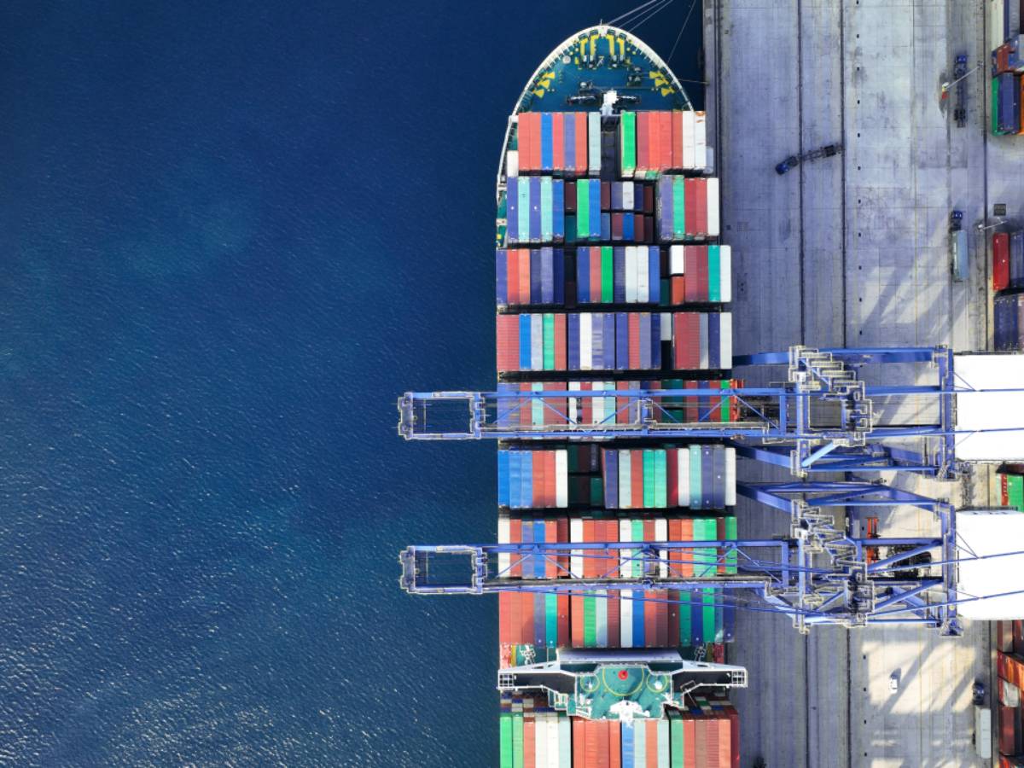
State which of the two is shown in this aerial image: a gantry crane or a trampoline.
gantry crane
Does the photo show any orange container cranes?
No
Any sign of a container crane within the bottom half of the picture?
Yes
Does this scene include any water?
Yes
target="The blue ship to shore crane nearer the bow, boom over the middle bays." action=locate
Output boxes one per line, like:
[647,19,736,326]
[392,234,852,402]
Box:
[396,335,1024,481]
